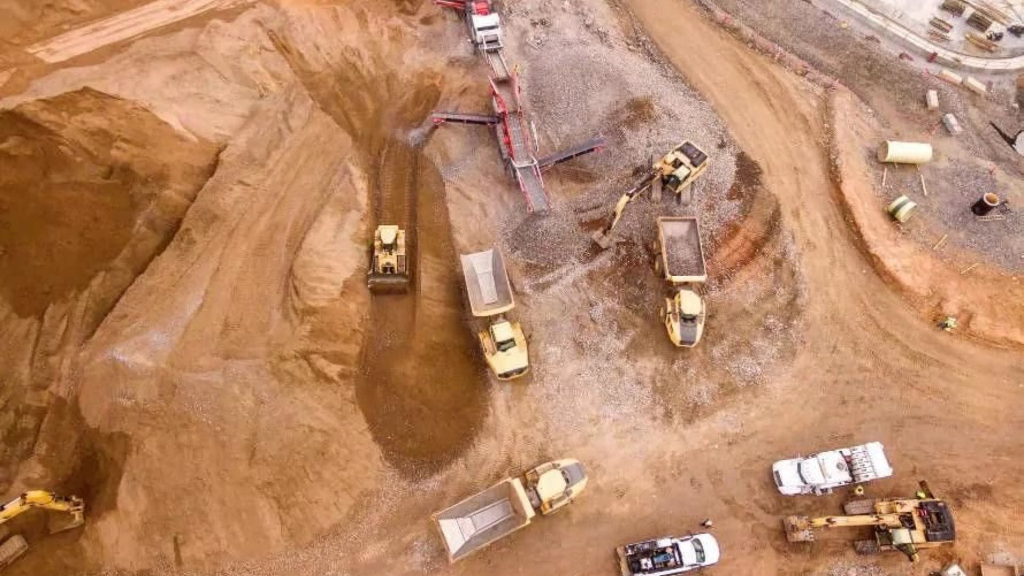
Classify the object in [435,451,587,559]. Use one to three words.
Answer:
truck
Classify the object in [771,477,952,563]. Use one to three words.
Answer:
work vehicle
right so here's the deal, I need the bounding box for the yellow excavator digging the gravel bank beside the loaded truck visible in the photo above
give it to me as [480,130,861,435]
[611,144,707,241]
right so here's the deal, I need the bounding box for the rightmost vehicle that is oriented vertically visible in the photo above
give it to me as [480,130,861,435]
[652,217,714,349]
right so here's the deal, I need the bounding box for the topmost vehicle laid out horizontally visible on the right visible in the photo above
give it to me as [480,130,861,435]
[766,443,896,495]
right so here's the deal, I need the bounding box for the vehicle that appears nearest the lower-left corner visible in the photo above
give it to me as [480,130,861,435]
[0,483,90,552]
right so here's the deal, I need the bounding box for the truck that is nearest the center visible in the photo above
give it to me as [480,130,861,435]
[458,247,530,382]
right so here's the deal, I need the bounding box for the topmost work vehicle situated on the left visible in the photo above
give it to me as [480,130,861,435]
[366,222,412,295]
